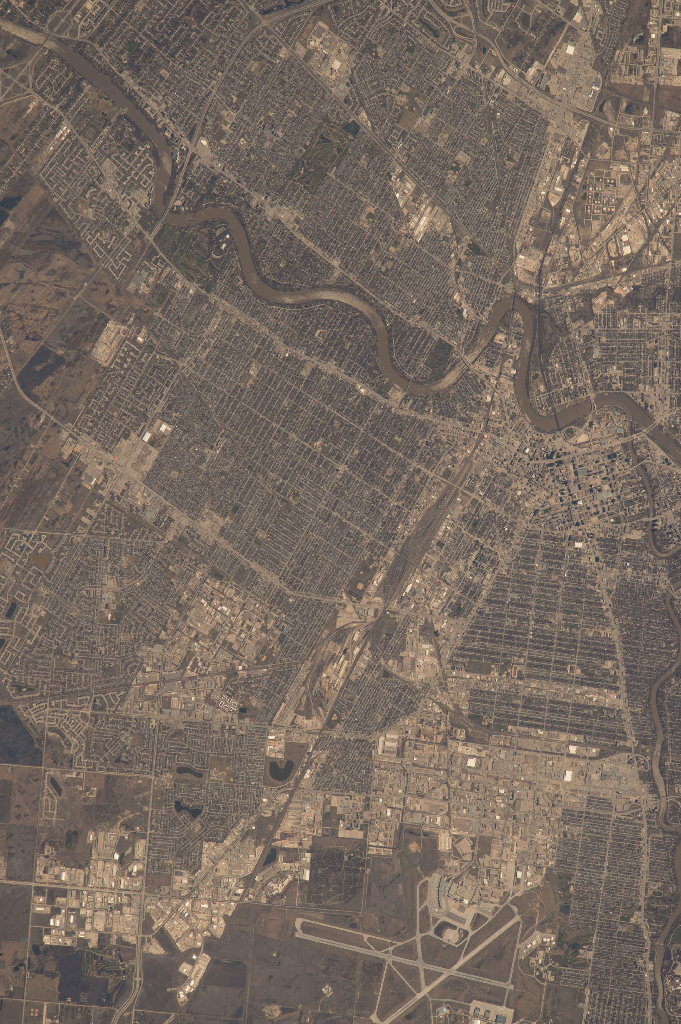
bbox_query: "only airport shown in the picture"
[271,860,558,1024]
